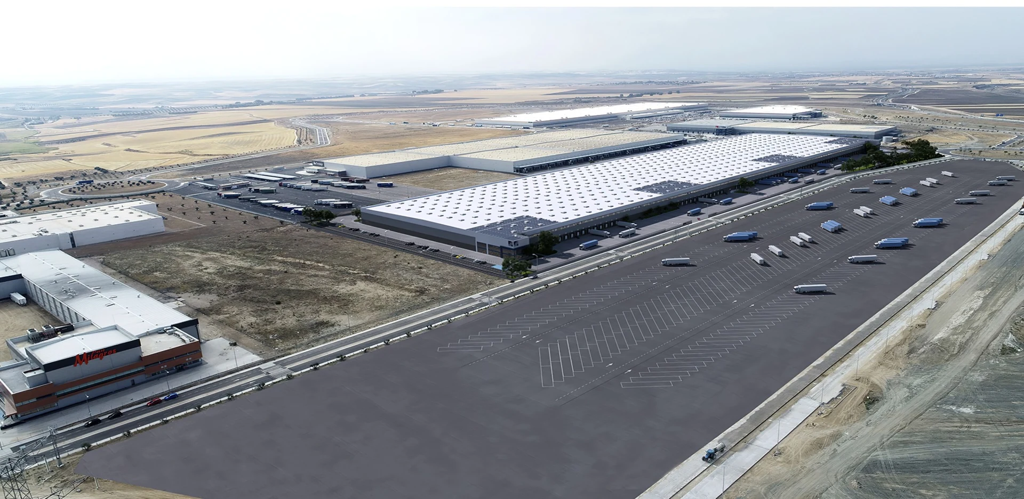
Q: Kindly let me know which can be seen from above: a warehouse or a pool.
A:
warehouse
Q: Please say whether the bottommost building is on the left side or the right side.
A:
left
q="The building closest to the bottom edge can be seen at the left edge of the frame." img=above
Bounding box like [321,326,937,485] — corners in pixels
[0,250,202,432]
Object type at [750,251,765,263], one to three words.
vehicle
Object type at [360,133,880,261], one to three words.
warehouse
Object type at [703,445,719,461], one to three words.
work vehicle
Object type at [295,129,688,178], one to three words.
building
